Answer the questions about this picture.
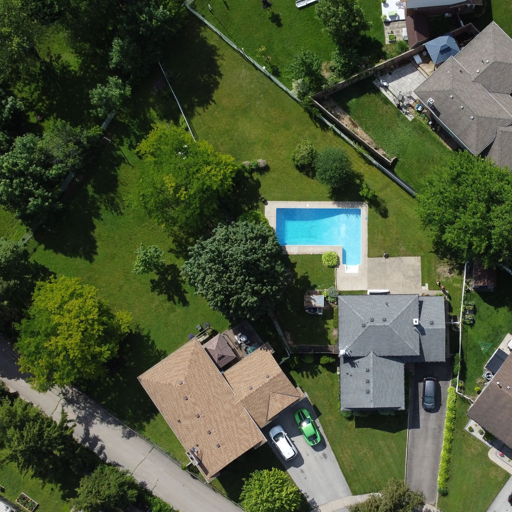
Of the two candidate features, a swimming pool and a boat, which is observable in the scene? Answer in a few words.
swimming pool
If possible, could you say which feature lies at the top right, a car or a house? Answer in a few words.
house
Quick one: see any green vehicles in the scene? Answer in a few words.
Yes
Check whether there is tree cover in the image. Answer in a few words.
Yes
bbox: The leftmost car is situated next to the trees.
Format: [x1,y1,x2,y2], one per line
[269,423,297,462]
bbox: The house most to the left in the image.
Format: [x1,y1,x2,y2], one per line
[137,337,305,483]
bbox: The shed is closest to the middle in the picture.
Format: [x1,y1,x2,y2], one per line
[303,294,325,308]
